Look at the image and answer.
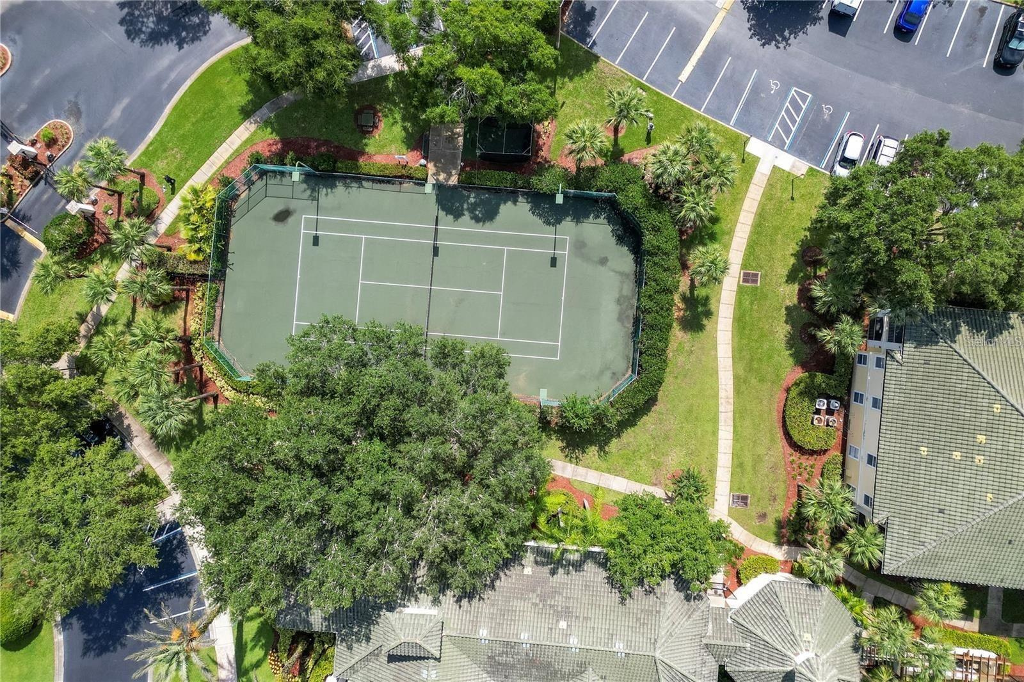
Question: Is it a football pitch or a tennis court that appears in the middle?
tennis court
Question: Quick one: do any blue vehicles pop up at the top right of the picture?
Yes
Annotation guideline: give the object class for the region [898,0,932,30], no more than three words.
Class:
car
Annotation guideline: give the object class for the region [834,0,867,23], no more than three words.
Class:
car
